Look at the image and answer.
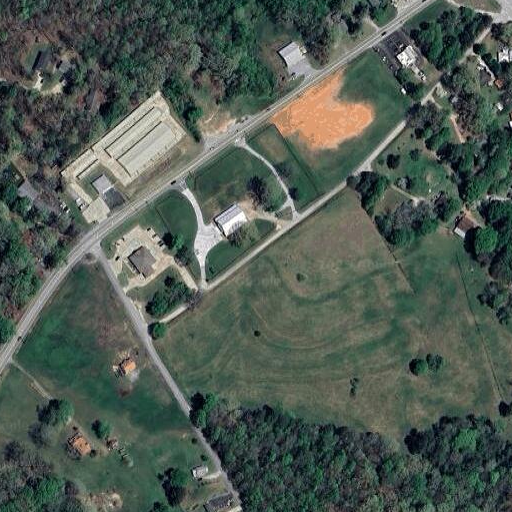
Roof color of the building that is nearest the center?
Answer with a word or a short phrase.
white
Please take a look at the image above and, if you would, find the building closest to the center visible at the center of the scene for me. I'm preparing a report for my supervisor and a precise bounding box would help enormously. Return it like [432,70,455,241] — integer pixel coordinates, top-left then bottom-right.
[214,204,247,236]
